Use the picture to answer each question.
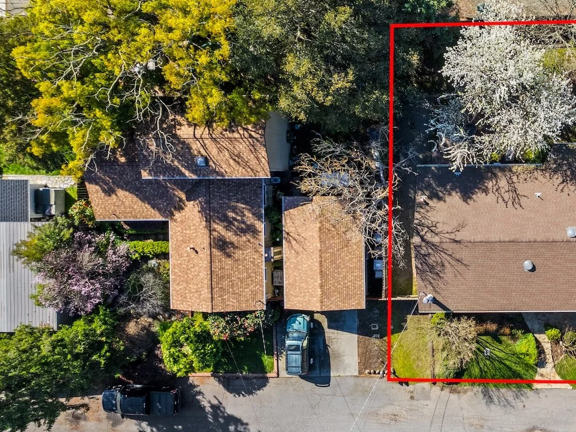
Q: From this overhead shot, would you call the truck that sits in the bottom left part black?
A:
Yes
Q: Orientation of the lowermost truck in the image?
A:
from side to side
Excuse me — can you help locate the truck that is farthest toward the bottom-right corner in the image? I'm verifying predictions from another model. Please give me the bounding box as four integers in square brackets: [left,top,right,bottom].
[283,313,313,377]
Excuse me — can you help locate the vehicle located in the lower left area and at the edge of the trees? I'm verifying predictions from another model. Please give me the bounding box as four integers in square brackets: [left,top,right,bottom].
[106,383,183,416]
